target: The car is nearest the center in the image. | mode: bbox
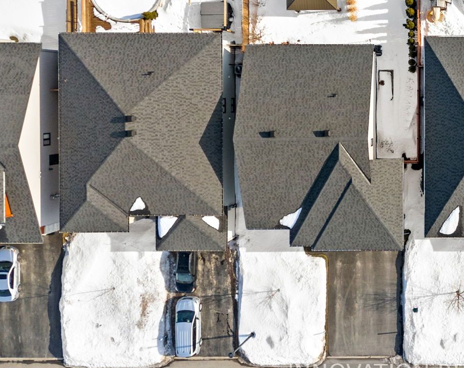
[170,251,201,291]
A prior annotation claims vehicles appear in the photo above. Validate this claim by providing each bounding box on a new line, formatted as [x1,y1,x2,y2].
[173,295,205,357]
[0,245,26,302]
[170,251,201,291]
